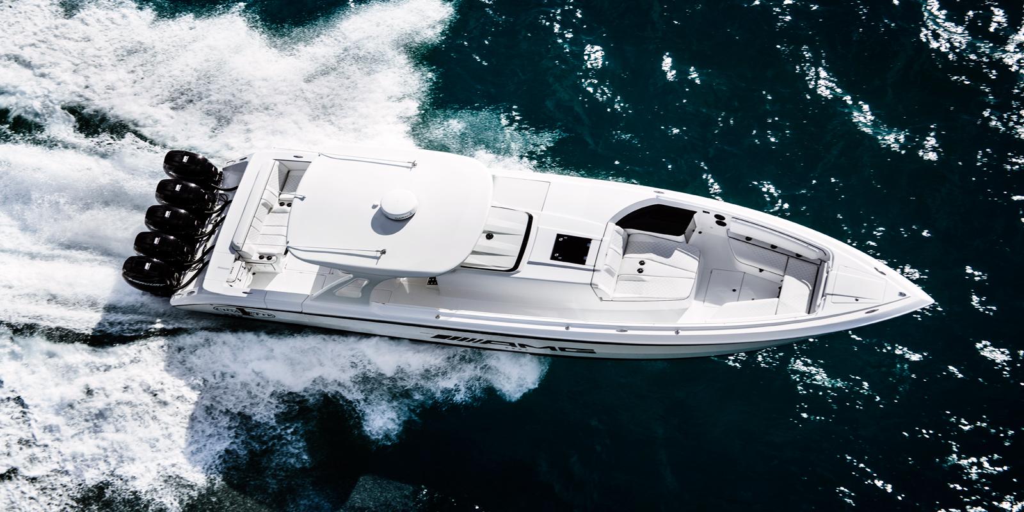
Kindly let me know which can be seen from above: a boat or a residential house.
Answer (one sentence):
Looking from above, you can make out a boat.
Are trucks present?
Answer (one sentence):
No, I can see no truck in this picture.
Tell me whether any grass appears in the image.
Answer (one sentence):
No, the picture contains no grass.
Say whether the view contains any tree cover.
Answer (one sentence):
No, the picture contains no tree cover.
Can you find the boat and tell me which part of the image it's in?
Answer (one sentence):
The boat is located in the center region of the scene.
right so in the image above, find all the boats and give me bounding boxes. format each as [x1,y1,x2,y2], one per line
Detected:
[121,146,939,360]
